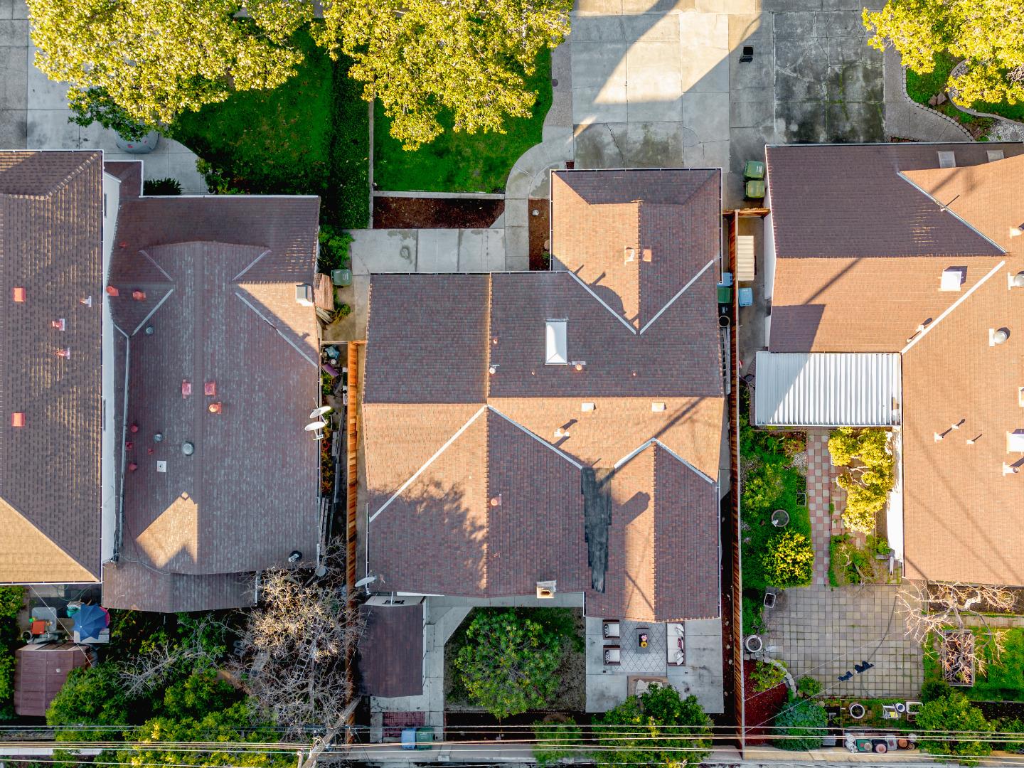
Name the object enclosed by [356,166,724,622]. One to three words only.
house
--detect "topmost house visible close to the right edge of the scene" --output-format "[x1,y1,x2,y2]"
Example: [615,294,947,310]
[744,140,1024,587]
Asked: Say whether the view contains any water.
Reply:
No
